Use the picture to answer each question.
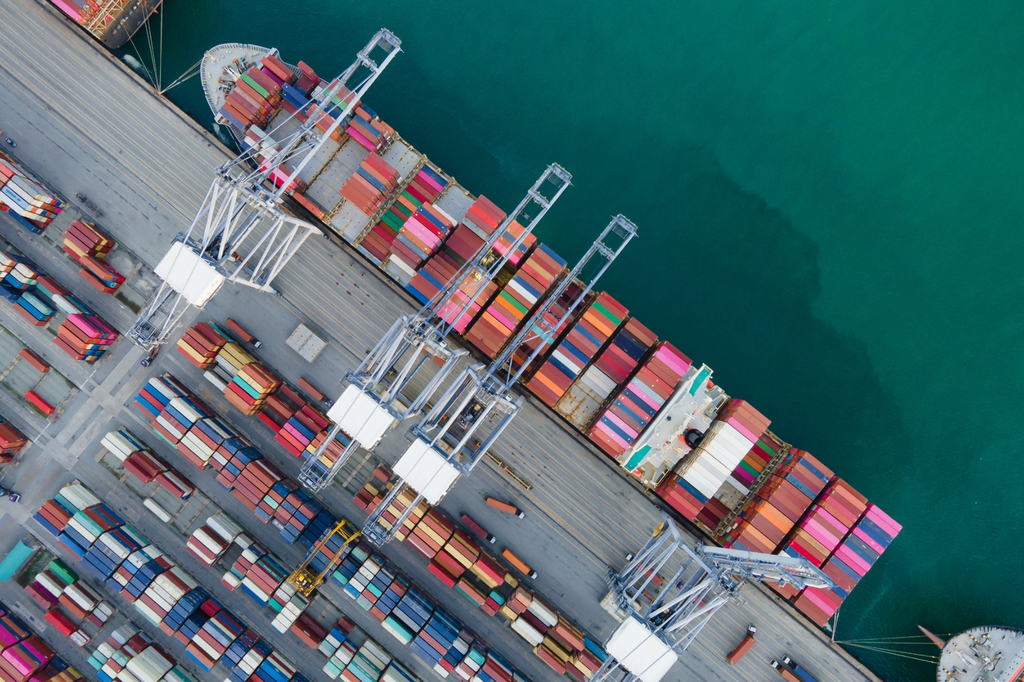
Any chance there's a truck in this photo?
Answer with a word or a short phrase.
Yes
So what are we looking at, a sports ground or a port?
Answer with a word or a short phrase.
port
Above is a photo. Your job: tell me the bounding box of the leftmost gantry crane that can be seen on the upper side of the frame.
[132,24,406,360]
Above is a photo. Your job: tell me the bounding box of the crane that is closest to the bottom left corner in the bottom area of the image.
[278,517,367,605]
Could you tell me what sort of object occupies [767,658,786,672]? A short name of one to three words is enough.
vehicle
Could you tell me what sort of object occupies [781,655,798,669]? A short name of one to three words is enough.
vehicle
